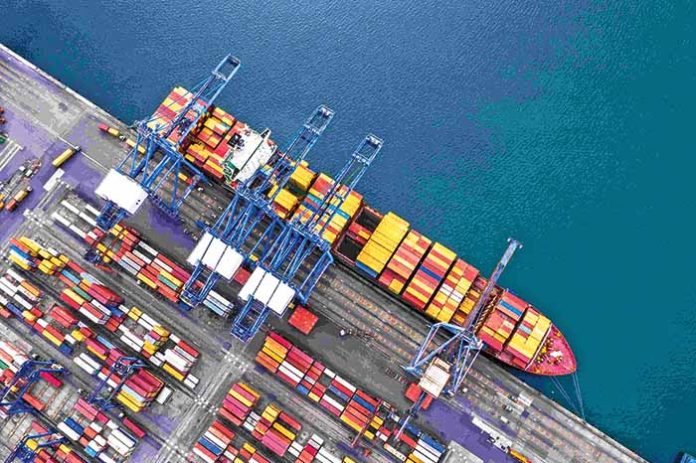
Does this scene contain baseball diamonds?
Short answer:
No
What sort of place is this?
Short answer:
port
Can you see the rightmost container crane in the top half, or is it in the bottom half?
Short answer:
bottom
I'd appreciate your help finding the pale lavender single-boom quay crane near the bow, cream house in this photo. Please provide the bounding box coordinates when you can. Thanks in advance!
[392,238,523,453]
